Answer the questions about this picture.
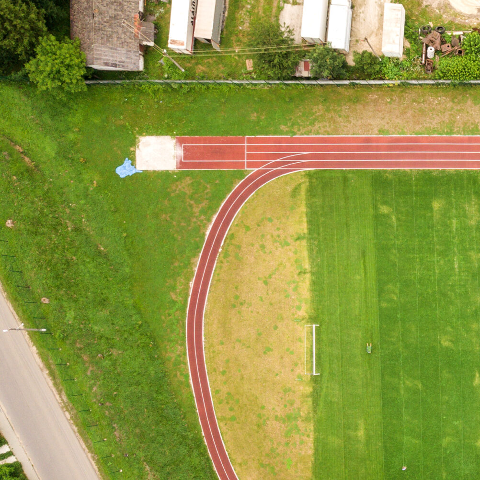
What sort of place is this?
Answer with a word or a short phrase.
sports ground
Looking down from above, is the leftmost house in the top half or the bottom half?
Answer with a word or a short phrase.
top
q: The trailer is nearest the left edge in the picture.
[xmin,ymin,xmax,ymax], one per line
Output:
[169,0,196,53]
